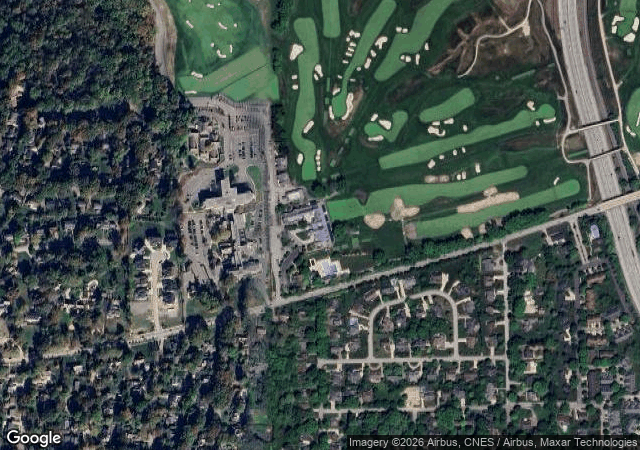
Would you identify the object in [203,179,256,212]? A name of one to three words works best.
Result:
building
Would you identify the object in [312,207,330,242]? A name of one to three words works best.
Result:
building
